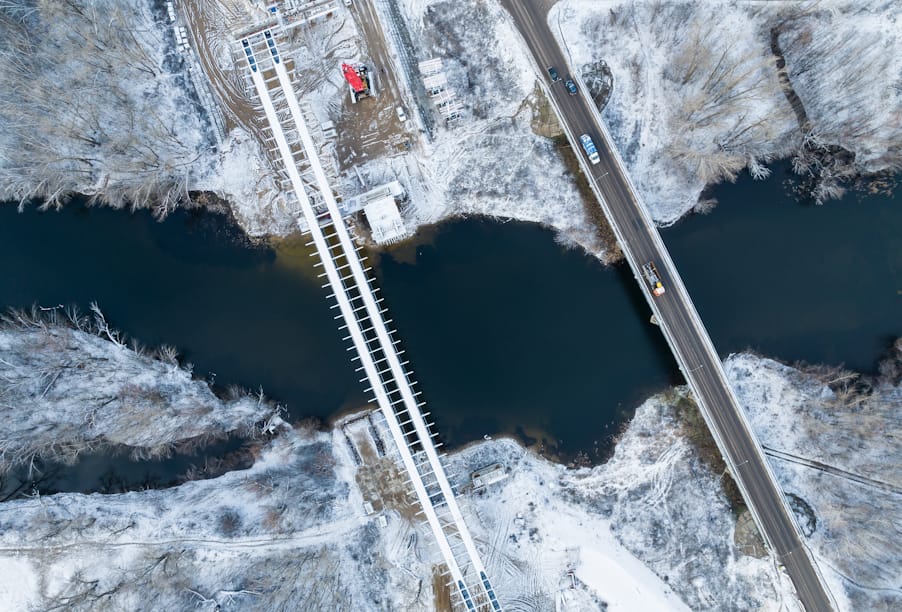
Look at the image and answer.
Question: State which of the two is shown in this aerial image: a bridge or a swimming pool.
bridge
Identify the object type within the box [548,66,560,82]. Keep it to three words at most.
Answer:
vehicle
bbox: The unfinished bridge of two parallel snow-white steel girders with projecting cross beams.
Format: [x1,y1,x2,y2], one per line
[226,24,507,612]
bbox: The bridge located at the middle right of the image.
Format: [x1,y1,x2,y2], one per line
[544,73,810,558]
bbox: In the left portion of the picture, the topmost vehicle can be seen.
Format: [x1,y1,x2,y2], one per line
[343,64,375,103]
